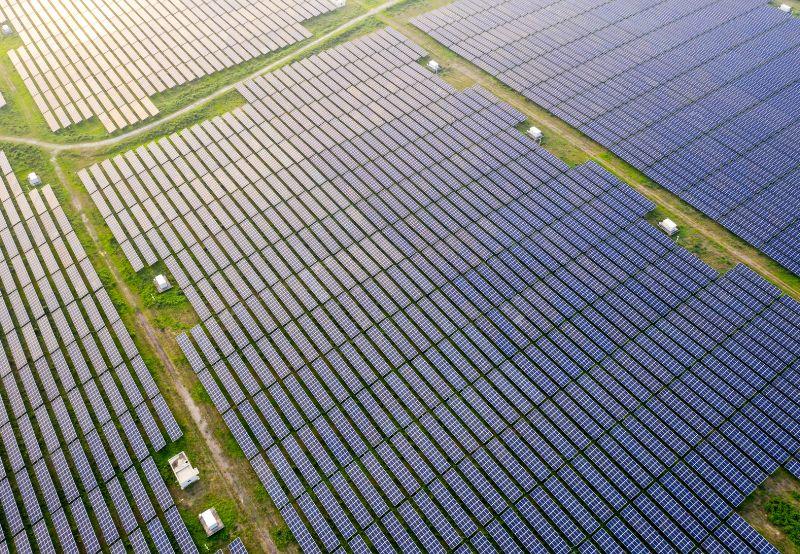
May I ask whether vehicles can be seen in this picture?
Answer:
No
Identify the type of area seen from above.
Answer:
solar farm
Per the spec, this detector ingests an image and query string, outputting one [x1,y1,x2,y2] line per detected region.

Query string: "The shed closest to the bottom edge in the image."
[195,506,225,538]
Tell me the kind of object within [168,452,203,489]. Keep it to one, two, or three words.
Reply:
building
